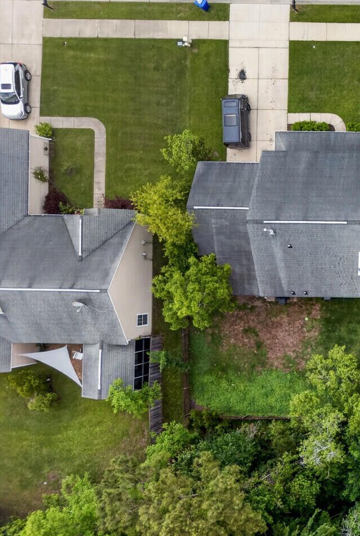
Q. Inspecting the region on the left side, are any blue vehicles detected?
No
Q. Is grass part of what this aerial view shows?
Yes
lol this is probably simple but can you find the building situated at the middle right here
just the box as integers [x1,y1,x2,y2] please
[187,131,360,297]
